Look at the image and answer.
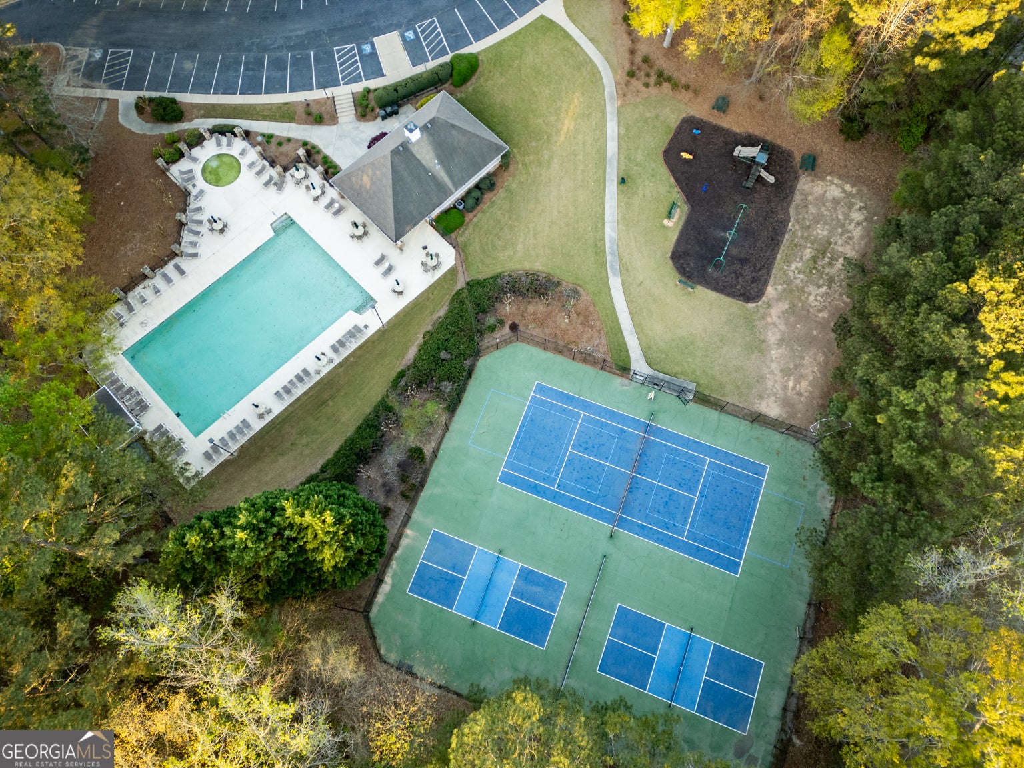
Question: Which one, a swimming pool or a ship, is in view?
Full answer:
Looking from above, you can make out a swimming pool.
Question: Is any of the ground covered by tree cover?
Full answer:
Yes, tree cover shows up in the scene.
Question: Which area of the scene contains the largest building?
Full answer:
The largest building is in the top part of the image.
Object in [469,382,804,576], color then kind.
blue tennis court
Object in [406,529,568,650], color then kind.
blue sports court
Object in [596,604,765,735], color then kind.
blue sports court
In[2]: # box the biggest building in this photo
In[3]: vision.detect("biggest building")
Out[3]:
[329,91,510,254]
